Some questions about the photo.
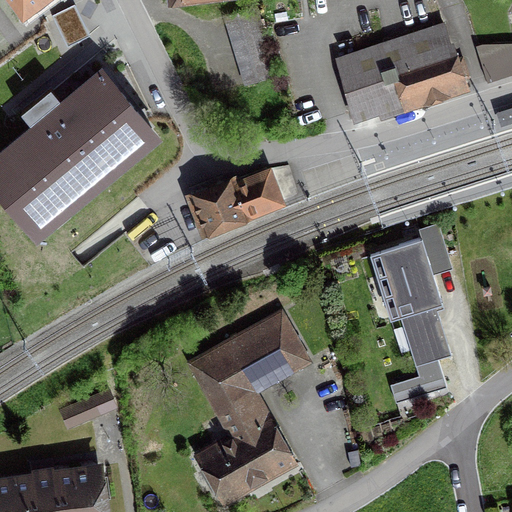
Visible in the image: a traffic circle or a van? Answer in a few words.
van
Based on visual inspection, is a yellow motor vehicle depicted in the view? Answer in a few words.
Yes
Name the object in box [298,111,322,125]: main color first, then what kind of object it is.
white car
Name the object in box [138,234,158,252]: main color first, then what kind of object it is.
gray car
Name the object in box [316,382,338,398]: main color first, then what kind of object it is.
blue car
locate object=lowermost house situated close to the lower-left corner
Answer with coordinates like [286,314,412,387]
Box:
[0,452,111,512]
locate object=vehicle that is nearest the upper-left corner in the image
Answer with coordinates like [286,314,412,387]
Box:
[150,86,166,108]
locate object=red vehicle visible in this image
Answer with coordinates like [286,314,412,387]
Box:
[442,271,455,292]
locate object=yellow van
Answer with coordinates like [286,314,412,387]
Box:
[128,212,160,243]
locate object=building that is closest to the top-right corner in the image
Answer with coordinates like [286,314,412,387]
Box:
[476,42,512,84]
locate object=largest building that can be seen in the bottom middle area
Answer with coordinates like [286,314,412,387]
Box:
[188,308,312,506]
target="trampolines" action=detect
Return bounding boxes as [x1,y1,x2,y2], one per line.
[36,36,52,52]
[143,494,159,510]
